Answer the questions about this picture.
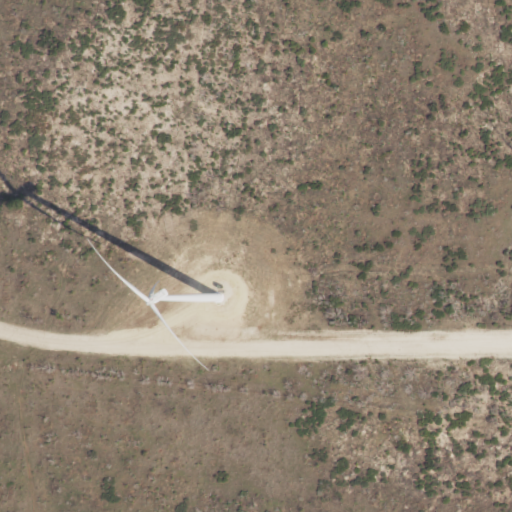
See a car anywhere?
No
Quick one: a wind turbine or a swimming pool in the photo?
wind turbine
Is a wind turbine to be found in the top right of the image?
No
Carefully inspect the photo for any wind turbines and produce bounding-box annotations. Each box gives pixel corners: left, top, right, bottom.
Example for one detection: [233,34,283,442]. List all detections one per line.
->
[89,240,226,370]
